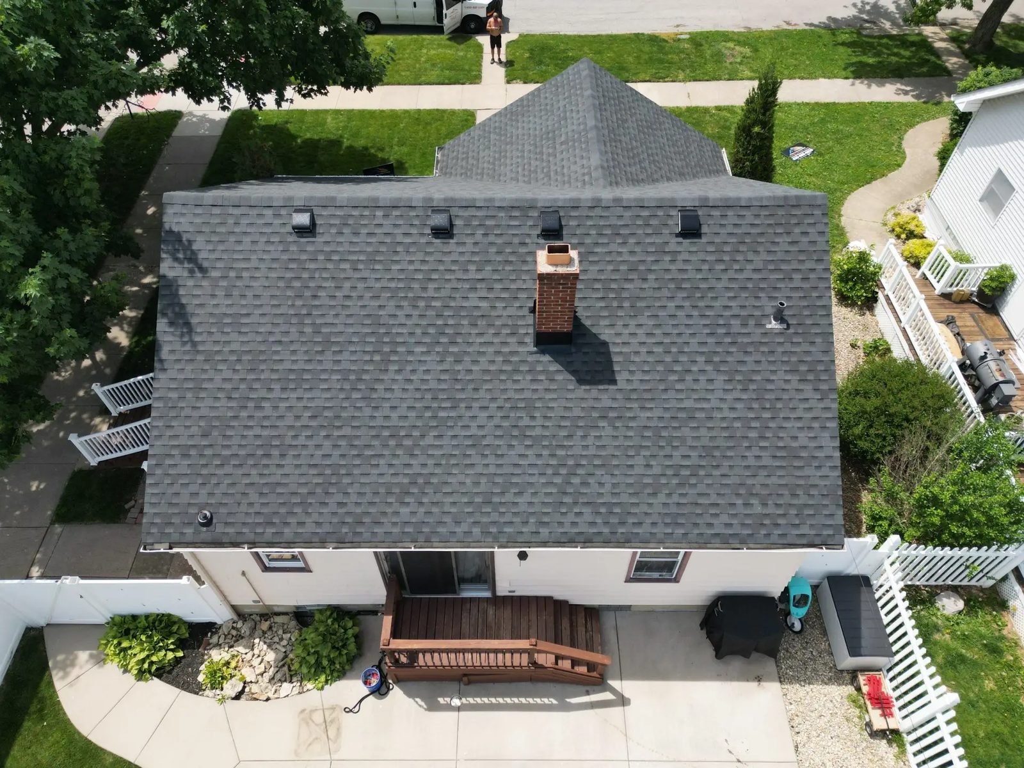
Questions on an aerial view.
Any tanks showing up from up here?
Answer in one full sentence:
No, there isn't any tank down there.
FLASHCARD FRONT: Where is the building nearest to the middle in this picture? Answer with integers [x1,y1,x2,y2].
[141,58,846,628]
